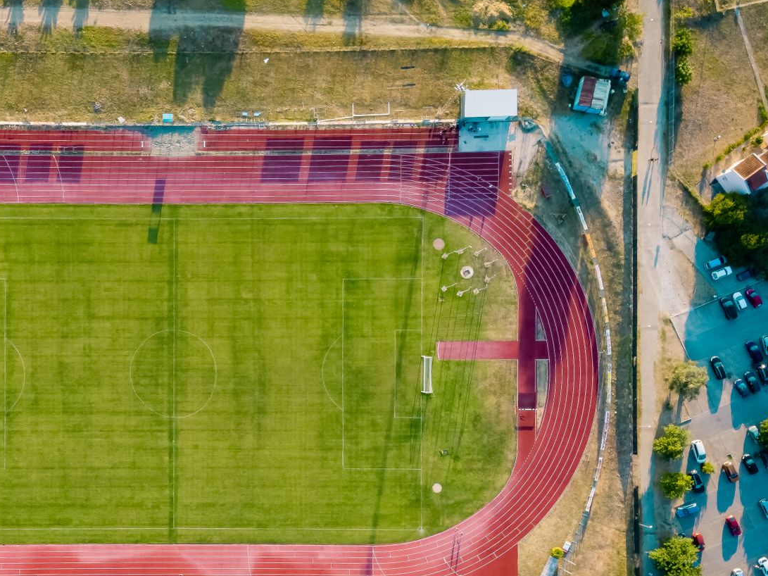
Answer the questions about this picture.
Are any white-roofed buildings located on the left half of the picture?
No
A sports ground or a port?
sports ground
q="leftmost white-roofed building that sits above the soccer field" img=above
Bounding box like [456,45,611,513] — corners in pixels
[458,91,518,122]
